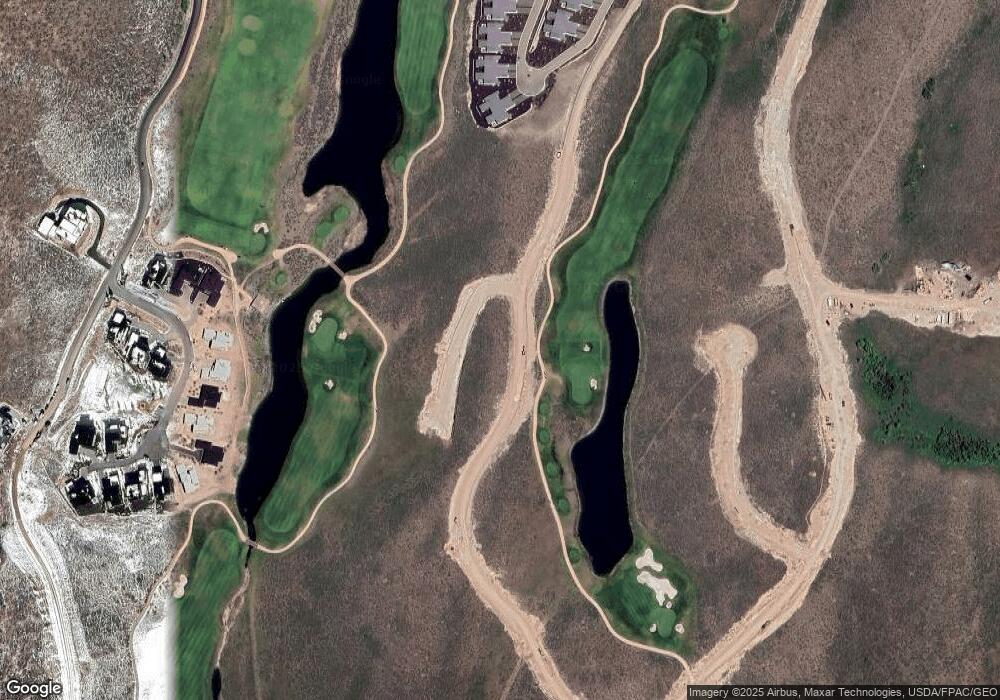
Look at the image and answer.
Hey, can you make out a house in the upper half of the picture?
Yes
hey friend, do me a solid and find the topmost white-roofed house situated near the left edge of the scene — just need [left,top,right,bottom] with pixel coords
[36,206,86,250]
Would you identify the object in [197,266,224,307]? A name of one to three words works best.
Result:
house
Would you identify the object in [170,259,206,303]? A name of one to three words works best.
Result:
house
